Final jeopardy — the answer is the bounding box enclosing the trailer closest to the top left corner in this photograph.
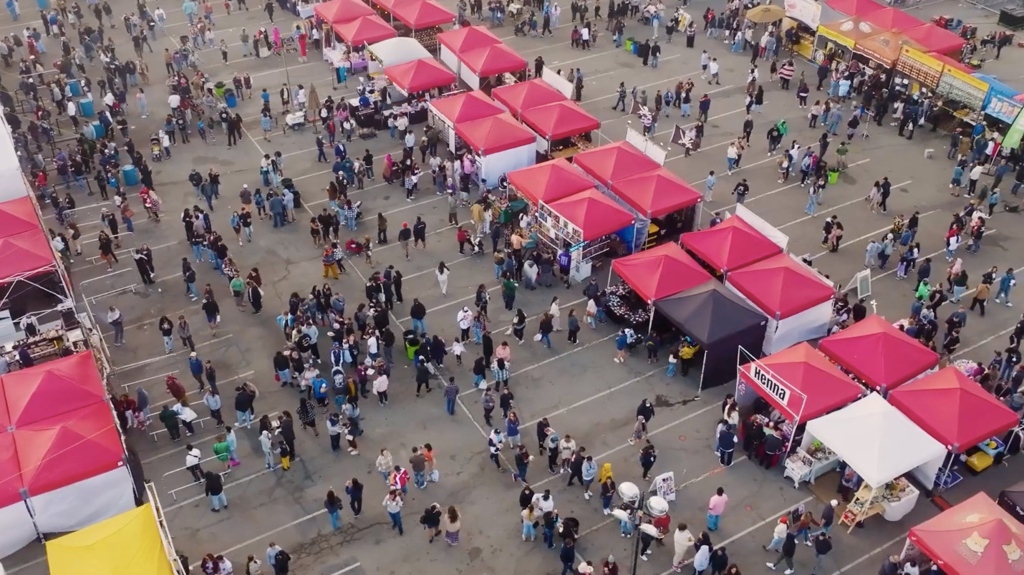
[266,34,314,134]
